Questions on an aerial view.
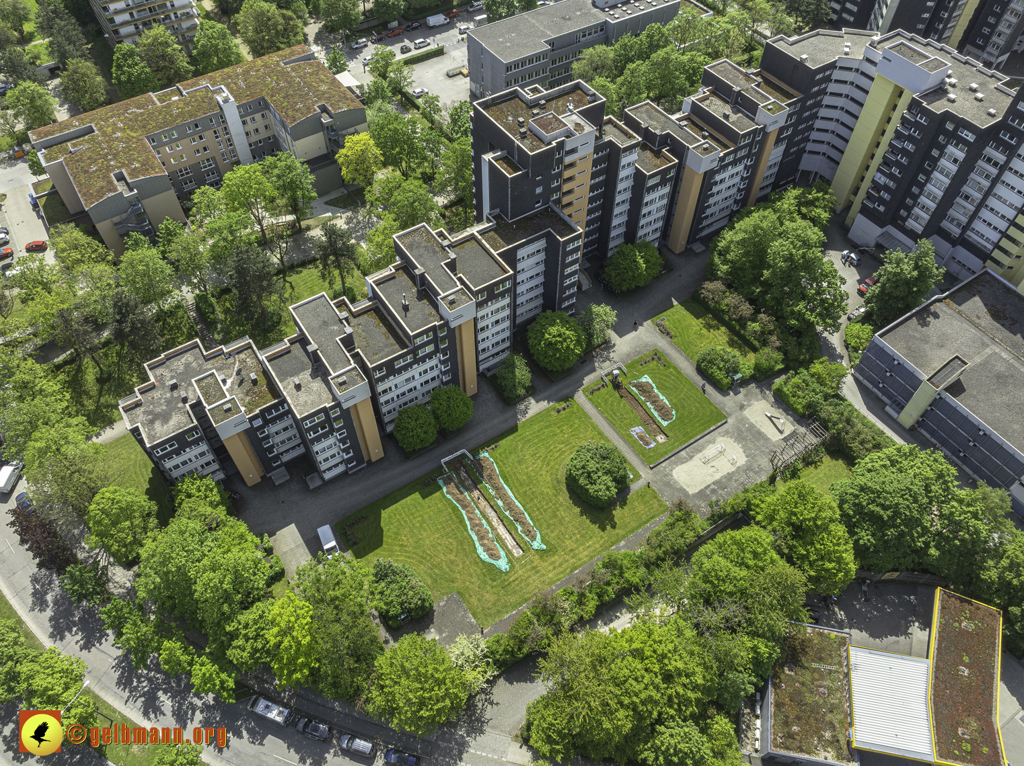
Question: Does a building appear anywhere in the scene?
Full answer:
Yes, looking at the shot, I can spot a building.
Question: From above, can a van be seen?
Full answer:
Yes, looking at the shot, I can spot a van.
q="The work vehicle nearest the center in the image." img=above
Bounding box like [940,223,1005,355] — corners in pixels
[610,372,628,395]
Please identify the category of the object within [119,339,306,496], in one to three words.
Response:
building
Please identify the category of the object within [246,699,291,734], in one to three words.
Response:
van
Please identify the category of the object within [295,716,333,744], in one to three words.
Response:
car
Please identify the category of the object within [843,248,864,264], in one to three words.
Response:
car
